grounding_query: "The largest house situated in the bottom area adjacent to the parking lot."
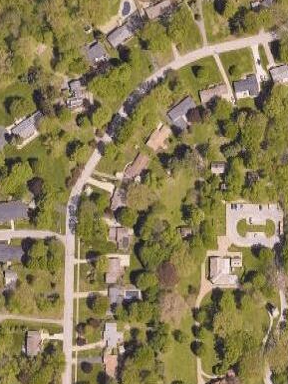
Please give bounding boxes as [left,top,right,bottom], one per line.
[210,256,241,286]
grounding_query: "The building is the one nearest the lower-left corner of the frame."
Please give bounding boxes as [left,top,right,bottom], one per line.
[26,330,41,355]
